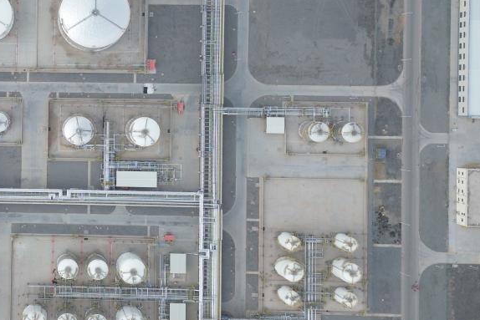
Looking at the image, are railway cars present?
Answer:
No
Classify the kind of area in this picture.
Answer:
industrial area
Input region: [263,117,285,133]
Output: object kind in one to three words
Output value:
shed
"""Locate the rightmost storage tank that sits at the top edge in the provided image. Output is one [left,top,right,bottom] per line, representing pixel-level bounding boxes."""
[55,0,131,54]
